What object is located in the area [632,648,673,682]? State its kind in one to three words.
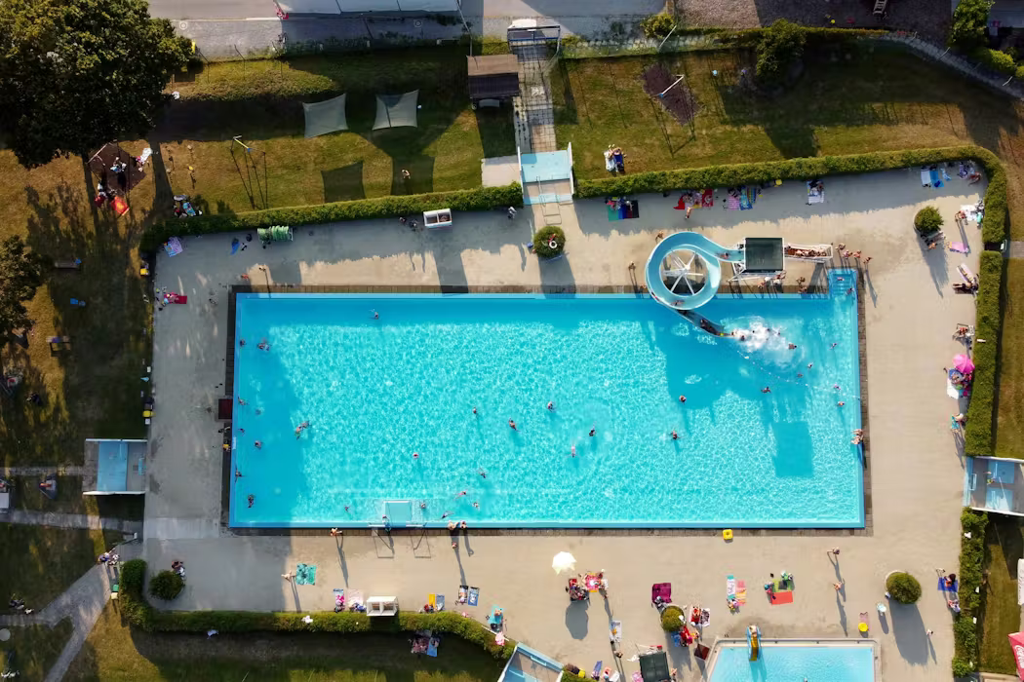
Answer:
building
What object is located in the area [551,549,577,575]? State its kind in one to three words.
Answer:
umbrella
